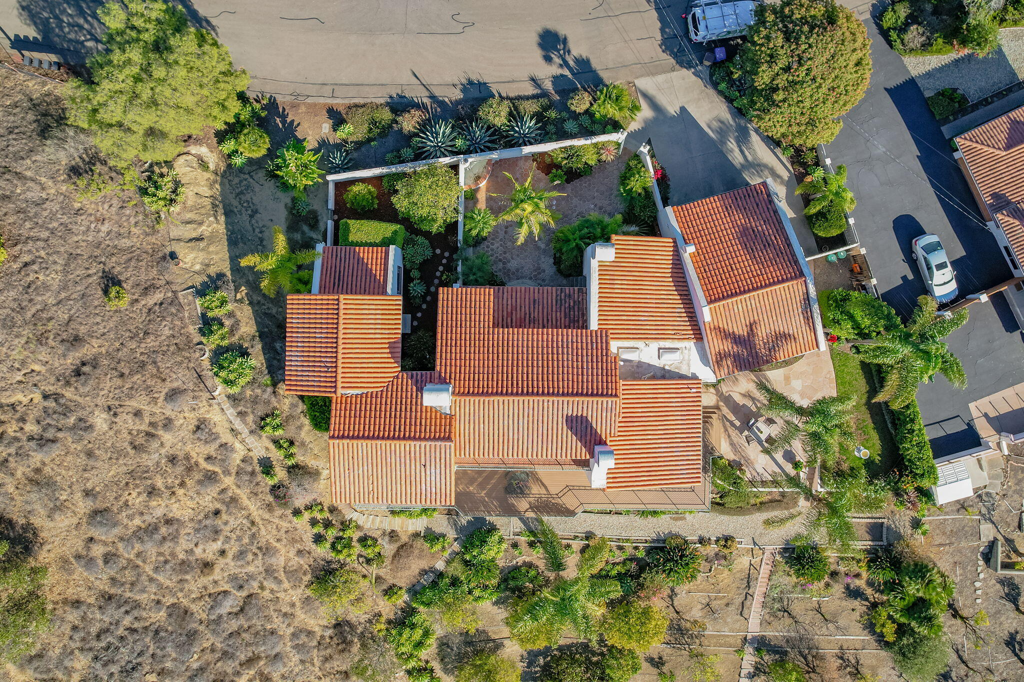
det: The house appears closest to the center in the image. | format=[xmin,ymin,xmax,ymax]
[284,179,826,522]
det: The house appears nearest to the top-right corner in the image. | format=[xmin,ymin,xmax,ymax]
[943,105,1024,276]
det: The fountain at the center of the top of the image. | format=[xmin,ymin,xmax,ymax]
[465,164,491,187]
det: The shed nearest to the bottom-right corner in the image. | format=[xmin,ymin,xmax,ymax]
[926,457,973,506]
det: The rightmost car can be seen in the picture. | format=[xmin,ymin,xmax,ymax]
[906,230,959,307]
